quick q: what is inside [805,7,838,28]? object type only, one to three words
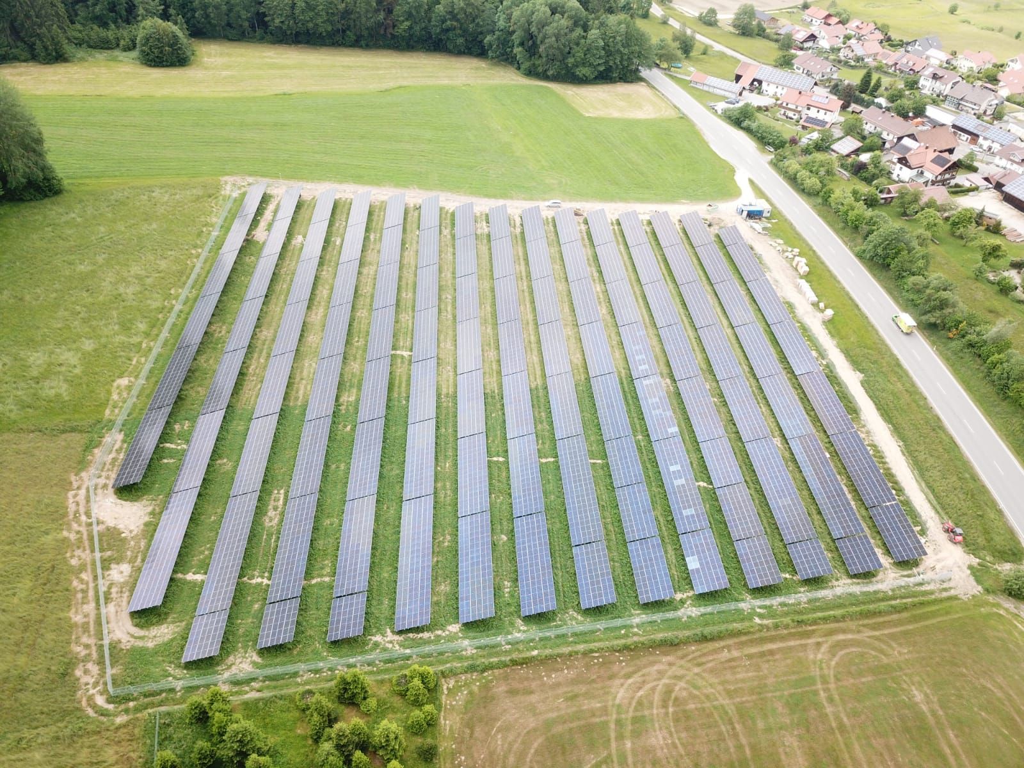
house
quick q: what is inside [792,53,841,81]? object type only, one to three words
house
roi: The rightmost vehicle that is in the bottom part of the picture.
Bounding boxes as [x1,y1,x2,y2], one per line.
[939,523,968,544]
